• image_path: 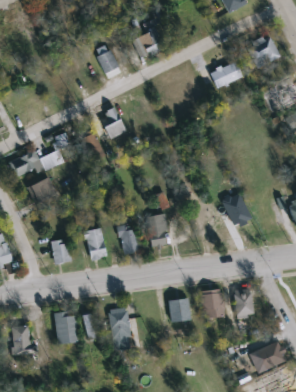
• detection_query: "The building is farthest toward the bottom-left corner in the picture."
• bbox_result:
[11,324,30,353]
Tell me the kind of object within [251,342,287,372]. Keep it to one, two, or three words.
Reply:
house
